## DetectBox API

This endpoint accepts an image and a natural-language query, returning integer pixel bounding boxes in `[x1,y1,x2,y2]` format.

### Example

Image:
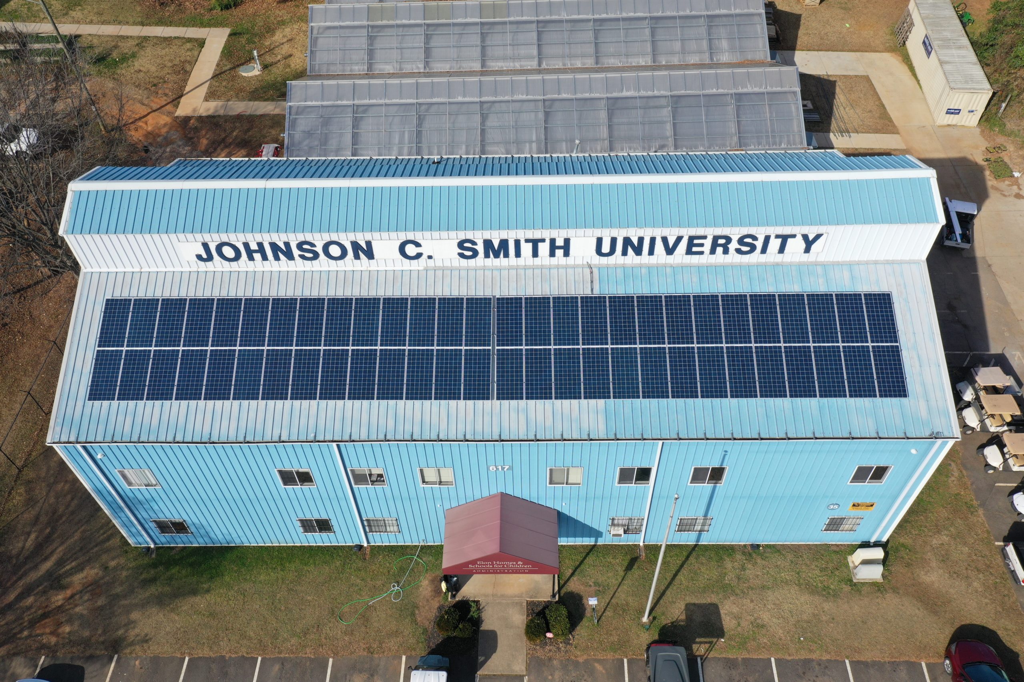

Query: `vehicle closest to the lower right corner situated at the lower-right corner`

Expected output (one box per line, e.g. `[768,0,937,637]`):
[945,633,1021,682]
